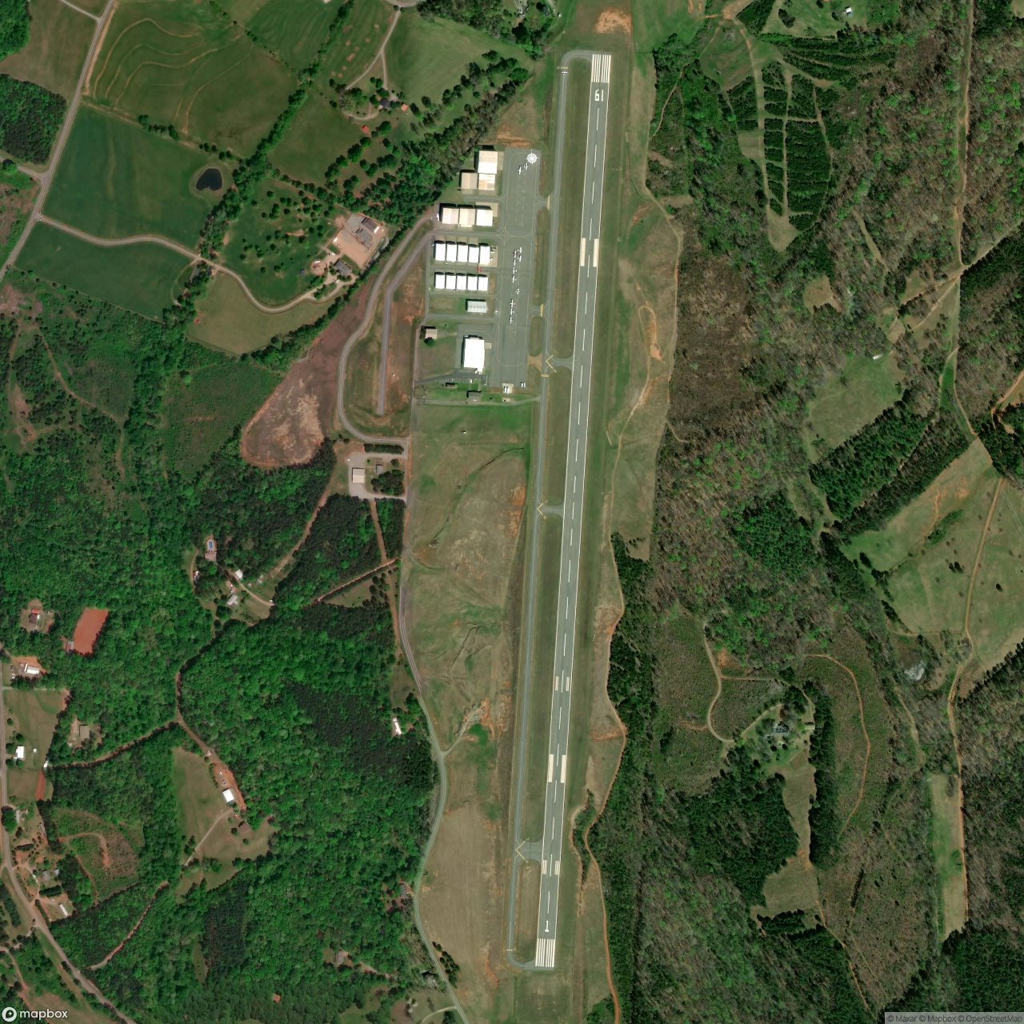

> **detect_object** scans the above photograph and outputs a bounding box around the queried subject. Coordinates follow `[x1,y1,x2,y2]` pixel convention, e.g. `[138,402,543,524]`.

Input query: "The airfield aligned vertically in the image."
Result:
[415,50,612,972]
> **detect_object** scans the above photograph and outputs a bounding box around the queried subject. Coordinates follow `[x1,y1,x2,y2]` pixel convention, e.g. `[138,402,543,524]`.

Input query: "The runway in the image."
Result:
[535,53,611,972]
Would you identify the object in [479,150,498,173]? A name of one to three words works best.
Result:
hangar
